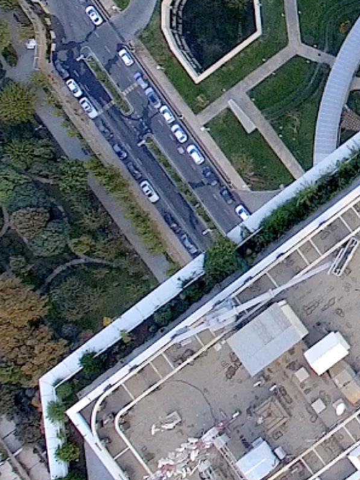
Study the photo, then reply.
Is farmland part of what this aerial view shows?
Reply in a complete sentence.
No, there's no farmland in this view.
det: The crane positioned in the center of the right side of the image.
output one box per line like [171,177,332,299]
[199,235,360,331]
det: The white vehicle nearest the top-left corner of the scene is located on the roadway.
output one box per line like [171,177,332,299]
[85,4,104,26]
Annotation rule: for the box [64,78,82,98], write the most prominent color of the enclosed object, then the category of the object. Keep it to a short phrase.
white car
